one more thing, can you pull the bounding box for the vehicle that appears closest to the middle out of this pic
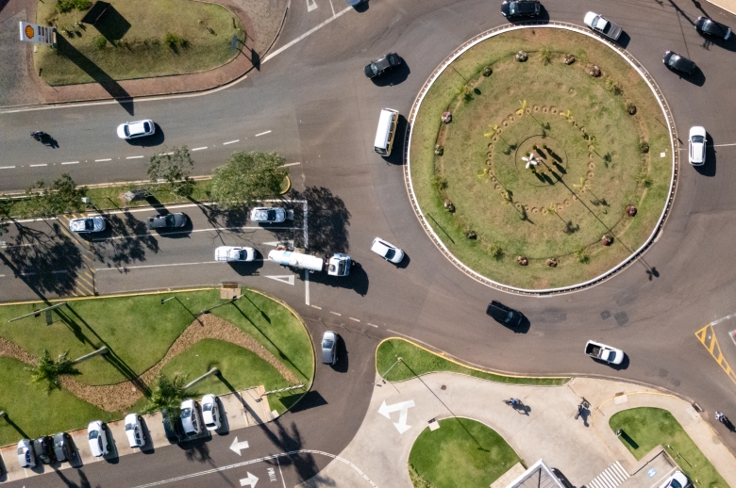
[368,236,406,265]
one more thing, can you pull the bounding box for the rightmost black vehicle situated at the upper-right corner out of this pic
[693,14,736,44]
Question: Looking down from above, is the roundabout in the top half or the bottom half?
top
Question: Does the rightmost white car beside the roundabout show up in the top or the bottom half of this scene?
top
